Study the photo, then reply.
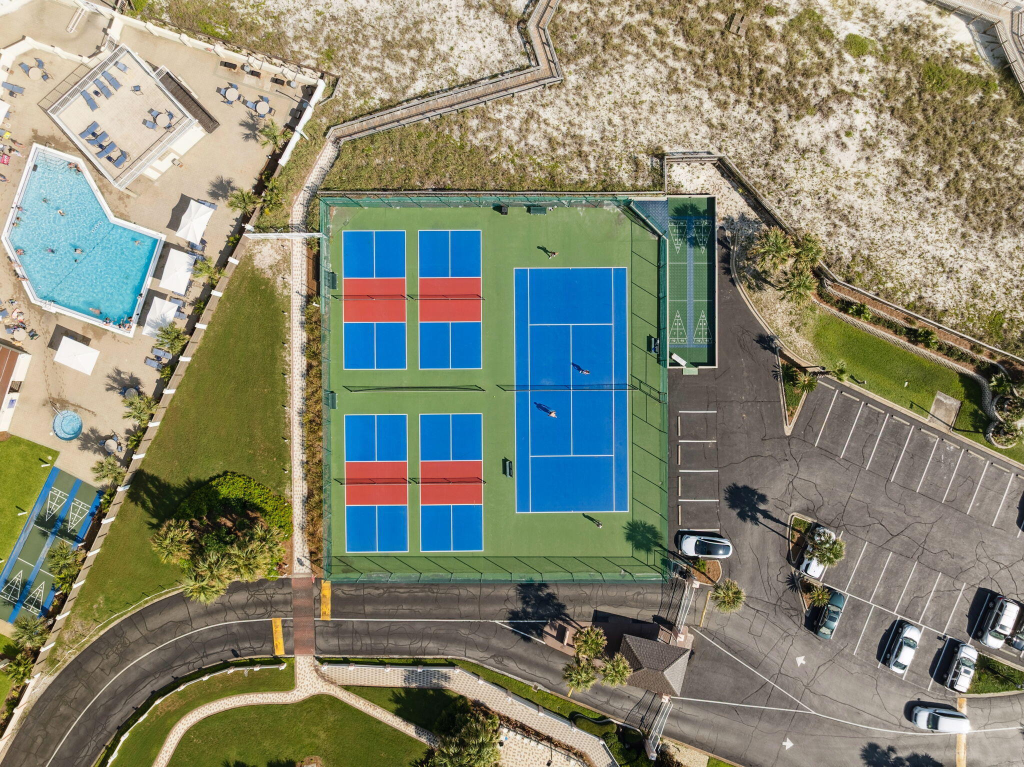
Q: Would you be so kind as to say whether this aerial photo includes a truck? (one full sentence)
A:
No, the frame has no truck in it.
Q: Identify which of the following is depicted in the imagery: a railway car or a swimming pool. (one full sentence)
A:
The one in the frame is a swimming pool.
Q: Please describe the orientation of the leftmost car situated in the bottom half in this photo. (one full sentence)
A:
In this picture, the leftmost car situated in the bottom half lies from side to side.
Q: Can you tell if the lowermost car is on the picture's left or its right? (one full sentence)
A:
You can find the lowermost car on the right side of the picture.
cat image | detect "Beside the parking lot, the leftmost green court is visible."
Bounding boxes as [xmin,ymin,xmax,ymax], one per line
[322,200,669,578]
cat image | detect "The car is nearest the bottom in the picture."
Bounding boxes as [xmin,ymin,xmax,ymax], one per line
[911,702,969,736]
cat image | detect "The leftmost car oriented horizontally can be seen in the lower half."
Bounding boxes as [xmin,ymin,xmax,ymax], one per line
[680,533,731,559]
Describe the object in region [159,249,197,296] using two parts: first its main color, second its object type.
white umbrella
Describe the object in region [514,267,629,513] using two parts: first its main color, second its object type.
blue tennis court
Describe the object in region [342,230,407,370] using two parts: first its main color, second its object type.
blue sports court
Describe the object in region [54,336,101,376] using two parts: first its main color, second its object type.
white umbrella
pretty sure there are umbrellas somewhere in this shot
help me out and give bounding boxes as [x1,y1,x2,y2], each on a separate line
[142,297,179,337]
[176,200,215,245]
[0,102,11,129]
[159,249,197,296]
[54,336,101,376]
